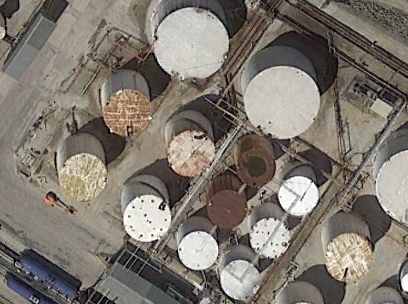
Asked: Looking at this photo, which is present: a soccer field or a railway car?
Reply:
railway car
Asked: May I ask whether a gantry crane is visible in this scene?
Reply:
No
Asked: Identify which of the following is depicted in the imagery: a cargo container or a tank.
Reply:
tank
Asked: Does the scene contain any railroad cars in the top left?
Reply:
No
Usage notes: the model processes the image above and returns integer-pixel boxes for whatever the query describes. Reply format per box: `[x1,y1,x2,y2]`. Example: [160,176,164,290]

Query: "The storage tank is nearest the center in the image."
[163,109,216,177]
